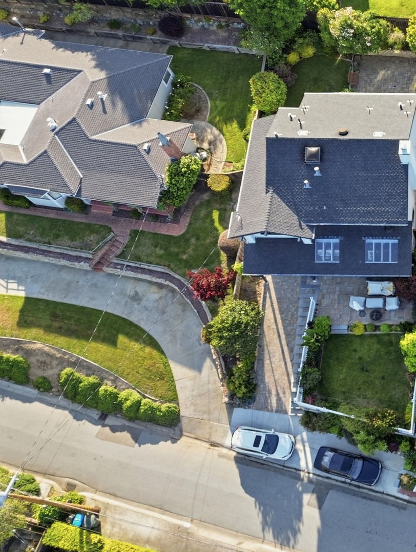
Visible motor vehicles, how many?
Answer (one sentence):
In total, 2 motor vehicles can be seen.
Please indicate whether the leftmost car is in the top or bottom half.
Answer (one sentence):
The leftmost car sits in the bottom half of the picture.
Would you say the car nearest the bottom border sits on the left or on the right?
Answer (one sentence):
It is on the right.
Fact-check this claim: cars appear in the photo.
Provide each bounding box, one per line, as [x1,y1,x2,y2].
[314,447,384,490]
[228,425,298,465]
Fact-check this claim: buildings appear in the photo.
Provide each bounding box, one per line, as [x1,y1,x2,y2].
[0,20,197,217]
[226,92,416,288]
